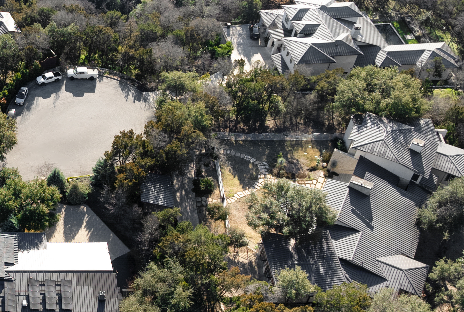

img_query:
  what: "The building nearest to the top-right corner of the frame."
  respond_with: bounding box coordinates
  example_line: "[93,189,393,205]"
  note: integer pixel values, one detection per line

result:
[259,0,459,89]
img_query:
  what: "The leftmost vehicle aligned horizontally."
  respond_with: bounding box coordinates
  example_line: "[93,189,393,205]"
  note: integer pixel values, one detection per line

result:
[35,69,64,85]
